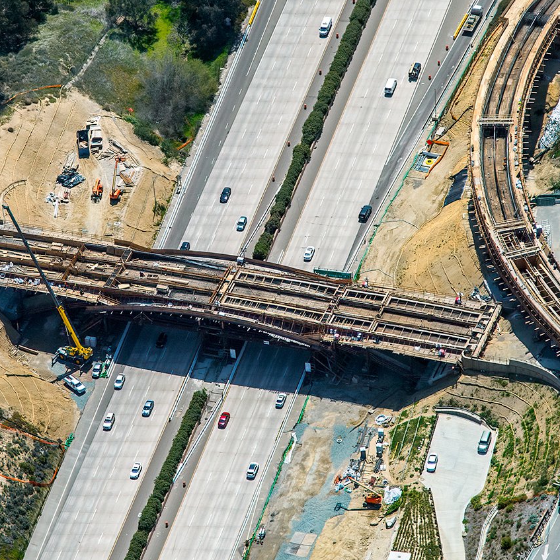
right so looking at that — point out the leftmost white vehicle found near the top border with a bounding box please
[319,17,332,34]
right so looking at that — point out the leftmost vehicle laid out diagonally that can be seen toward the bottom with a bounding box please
[63,375,85,392]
